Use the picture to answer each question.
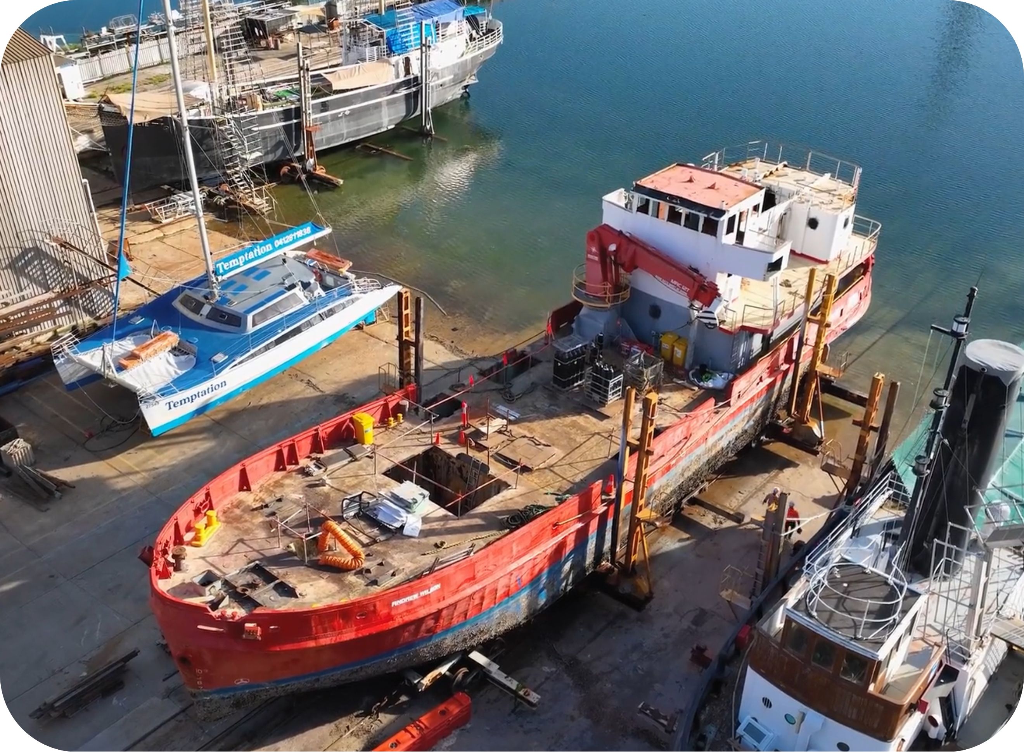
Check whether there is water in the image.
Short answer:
Yes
